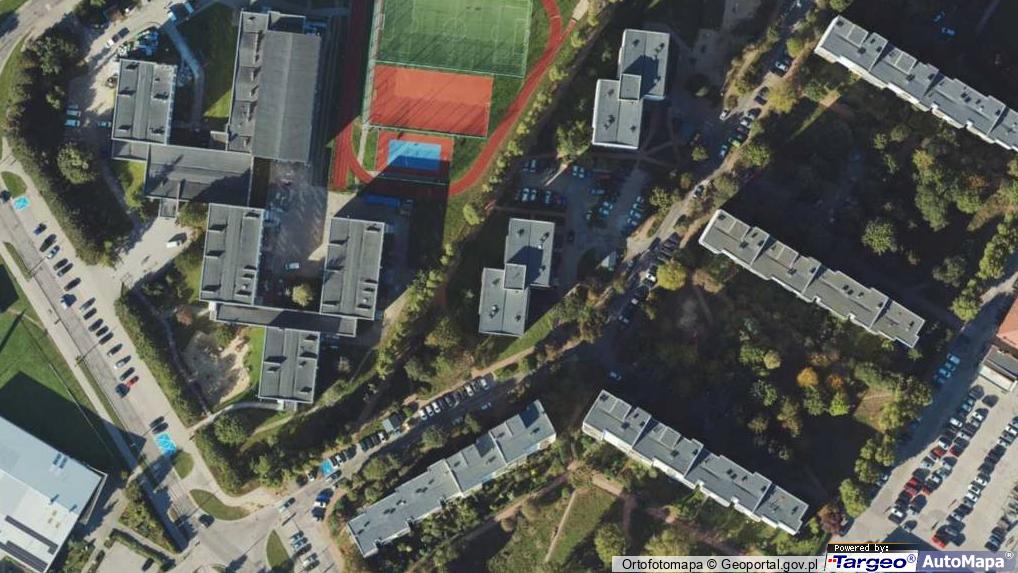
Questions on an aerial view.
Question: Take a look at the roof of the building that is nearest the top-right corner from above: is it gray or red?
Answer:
gray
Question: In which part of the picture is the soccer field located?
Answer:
top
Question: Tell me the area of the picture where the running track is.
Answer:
top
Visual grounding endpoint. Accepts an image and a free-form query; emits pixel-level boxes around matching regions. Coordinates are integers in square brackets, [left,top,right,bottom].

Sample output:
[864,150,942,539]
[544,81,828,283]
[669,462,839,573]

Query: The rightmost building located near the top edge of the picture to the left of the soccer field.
[210,10,322,162]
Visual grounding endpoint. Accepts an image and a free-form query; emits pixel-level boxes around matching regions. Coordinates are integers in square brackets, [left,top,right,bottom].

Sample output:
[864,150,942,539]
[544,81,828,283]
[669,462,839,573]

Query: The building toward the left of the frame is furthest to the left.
[0,414,108,573]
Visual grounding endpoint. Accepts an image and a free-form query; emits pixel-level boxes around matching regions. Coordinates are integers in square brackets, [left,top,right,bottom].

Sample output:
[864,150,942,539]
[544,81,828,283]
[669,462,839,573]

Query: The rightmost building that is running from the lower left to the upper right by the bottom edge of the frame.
[349,400,555,555]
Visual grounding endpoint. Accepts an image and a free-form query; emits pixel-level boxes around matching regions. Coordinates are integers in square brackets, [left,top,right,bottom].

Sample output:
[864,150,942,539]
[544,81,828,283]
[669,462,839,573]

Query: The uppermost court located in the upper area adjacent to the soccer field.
[369,66,492,136]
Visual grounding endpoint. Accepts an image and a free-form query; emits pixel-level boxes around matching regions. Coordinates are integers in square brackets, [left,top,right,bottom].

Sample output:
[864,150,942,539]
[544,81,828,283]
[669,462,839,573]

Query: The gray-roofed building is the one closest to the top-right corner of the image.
[813,17,1018,164]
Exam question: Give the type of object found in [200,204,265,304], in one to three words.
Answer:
building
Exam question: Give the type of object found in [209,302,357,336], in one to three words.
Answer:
building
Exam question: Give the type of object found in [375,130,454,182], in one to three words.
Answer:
sports court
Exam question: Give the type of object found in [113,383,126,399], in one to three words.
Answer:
vehicle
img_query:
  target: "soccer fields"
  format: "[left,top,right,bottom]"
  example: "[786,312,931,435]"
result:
[376,0,533,78]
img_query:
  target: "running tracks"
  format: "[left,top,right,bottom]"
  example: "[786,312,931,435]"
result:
[331,0,578,201]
